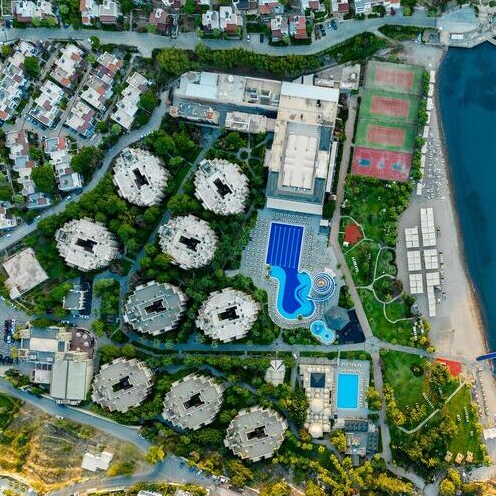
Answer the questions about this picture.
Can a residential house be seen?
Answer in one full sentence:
Yes, looking at the shot, I can spot a residential house.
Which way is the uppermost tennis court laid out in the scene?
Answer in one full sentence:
Seen from above, the uppermost tennis court lies from left to right.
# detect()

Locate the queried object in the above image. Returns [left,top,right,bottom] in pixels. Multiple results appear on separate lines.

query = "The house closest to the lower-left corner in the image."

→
[82,451,115,471]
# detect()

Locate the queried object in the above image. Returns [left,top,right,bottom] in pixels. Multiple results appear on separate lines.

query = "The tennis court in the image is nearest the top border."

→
[364,60,425,95]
